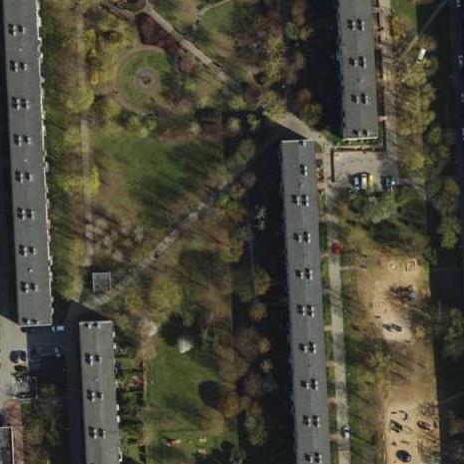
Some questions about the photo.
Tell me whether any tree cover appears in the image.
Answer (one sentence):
Yes, tree cover shows up in the scene.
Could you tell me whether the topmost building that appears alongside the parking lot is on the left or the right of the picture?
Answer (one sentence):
The topmost building that appears alongside the parking lot sits on the left side.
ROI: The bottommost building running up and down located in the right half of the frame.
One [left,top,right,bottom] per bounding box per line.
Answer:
[279,140,333,464]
